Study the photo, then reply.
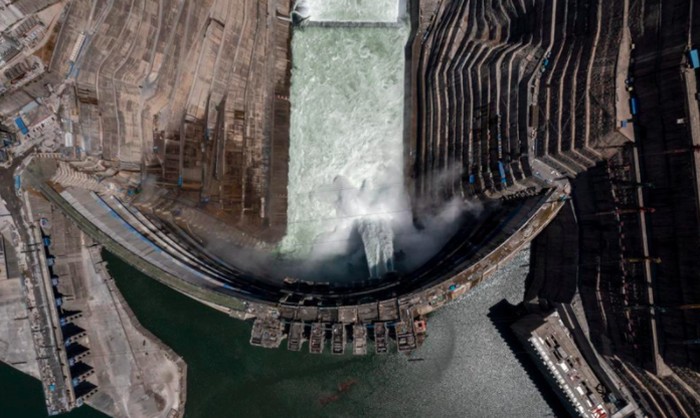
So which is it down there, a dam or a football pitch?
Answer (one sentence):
This aerial view contains a dam.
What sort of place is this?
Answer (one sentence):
This looks like a port.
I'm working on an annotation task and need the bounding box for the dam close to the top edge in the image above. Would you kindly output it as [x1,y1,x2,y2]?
[283,0,409,34]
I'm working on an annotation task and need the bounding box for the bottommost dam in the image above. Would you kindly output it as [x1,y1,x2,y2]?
[40,179,569,354]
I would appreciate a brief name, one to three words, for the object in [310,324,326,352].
pier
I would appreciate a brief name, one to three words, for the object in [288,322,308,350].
pier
